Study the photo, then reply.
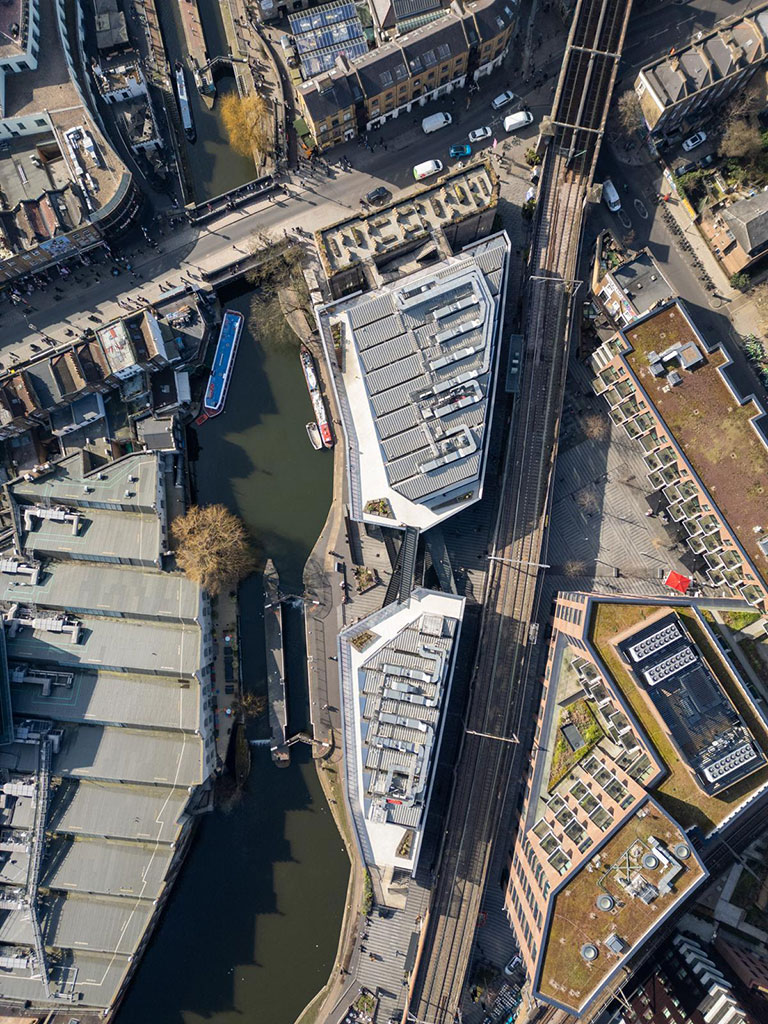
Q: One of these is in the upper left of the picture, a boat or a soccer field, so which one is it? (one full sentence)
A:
What appears in the upper left of the picture is a boat.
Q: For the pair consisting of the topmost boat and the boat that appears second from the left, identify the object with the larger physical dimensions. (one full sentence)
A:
Compared with the topmost boat, the boat that appears second from the left is the bigger one.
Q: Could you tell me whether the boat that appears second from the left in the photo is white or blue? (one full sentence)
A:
In this view, the boat that appears second from the left is blue.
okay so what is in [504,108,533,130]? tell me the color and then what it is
white vehicle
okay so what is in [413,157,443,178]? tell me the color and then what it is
white vehicle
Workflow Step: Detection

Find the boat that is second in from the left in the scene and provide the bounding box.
[202,307,246,415]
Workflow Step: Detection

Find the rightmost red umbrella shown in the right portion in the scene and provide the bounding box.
[665,571,690,593]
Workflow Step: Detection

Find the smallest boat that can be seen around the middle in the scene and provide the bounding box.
[307,422,321,447]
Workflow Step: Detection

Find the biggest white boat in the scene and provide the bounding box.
[296,341,332,447]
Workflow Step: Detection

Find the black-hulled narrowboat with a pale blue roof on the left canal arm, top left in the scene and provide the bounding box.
[171,59,198,143]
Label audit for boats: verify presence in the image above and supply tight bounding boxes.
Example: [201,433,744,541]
[171,59,198,143]
[307,422,321,447]
[202,307,246,415]
[296,341,332,447]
